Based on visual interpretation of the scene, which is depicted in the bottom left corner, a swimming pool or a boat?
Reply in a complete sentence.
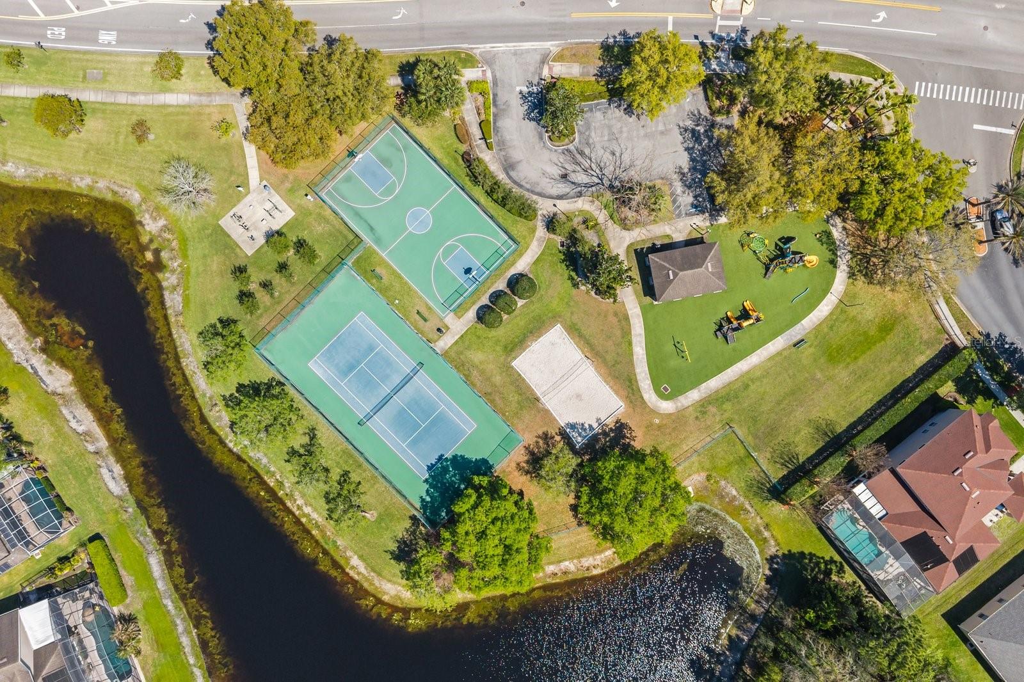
Visible in the bottom left corner is a swimming pool.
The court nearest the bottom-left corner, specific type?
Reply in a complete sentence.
It looks like the court nearest the bottom-left corner is a tennis court.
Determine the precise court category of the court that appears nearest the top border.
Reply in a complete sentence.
The court that appears nearest the top border appears to be a basketball court.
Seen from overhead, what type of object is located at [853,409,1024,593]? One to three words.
house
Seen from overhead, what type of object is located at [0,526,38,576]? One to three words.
house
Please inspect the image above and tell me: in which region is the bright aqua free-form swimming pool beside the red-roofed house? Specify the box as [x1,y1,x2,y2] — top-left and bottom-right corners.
[826,499,935,606]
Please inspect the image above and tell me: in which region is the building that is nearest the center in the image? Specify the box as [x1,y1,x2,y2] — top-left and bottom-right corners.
[647,242,727,304]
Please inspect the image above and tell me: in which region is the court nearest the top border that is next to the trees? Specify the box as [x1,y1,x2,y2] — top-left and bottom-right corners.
[315,116,520,316]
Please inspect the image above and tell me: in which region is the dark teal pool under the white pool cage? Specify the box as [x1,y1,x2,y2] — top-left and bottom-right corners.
[0,466,73,547]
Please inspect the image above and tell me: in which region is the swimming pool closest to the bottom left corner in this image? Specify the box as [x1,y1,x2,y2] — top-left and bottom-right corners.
[58,584,139,682]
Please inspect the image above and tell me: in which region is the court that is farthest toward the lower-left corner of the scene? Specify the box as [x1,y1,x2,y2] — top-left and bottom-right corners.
[258,263,523,530]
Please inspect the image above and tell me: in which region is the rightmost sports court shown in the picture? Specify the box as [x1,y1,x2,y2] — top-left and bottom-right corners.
[512,324,624,447]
